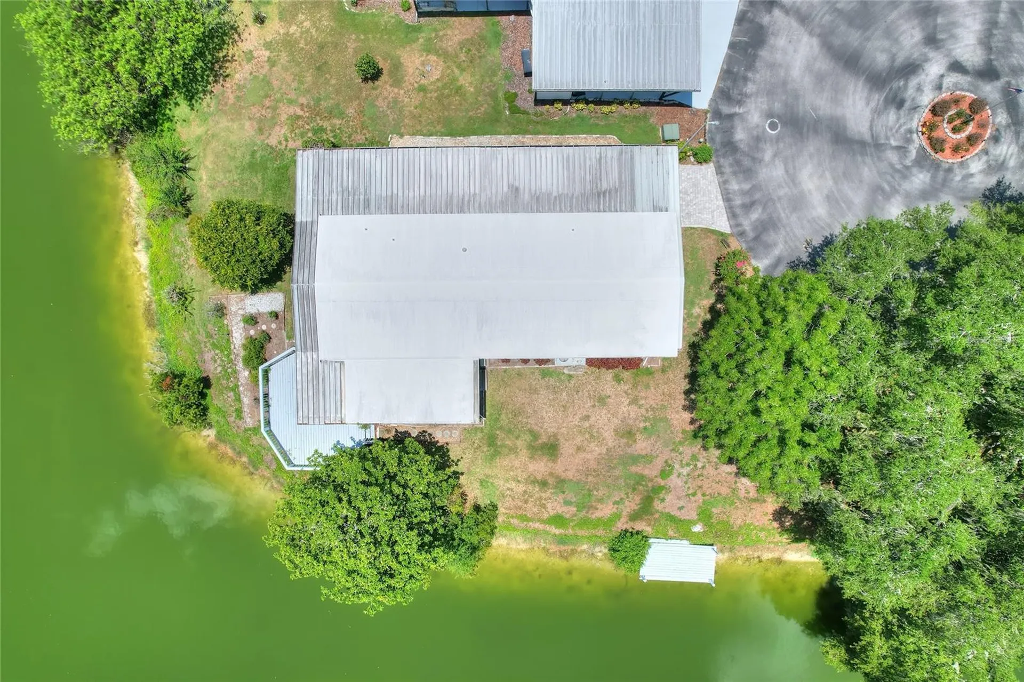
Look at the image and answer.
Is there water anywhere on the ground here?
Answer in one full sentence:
Yes, there is water in the image.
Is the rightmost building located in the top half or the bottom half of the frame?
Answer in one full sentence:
The rightmost building sits in the top half of the picture.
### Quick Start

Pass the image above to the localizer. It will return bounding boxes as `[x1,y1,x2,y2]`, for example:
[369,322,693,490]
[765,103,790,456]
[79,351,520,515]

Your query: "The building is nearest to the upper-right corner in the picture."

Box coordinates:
[532,0,706,104]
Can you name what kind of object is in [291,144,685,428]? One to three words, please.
house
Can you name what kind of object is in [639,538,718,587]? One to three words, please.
pier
